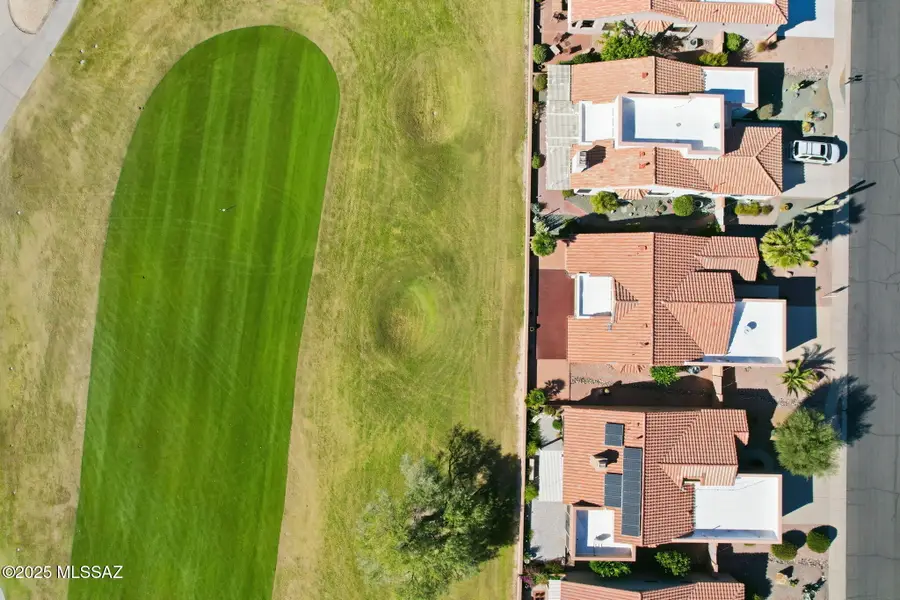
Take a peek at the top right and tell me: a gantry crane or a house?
house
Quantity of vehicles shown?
1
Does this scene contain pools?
No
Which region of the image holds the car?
top right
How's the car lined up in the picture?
from left to right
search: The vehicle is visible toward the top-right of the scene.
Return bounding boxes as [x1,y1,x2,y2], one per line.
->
[787,139,838,163]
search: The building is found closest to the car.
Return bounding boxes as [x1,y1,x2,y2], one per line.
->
[567,57,786,200]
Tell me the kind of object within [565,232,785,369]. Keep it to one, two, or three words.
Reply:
house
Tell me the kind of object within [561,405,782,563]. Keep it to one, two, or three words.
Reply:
house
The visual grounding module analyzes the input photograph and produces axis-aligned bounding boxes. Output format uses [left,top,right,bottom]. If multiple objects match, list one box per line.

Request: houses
[567,57,786,200]
[561,405,782,563]
[565,232,785,369]
[568,0,790,34]
[559,572,748,600]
